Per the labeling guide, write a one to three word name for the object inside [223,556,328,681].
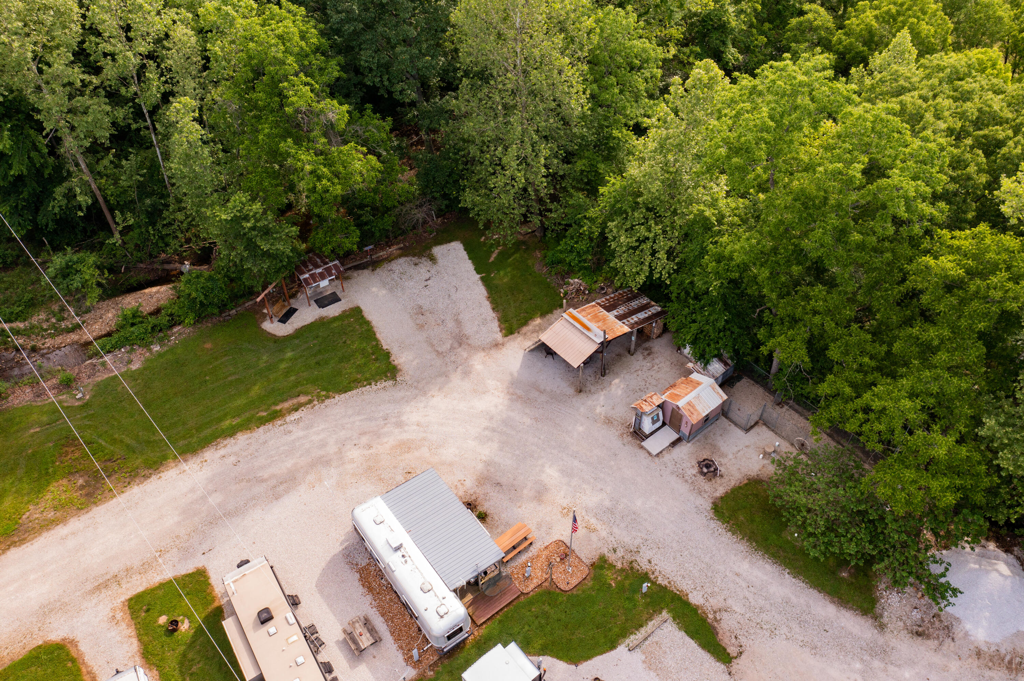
trailer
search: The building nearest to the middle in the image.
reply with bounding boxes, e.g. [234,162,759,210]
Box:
[539,283,668,393]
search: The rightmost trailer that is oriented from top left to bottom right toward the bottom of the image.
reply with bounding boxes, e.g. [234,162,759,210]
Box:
[350,493,472,650]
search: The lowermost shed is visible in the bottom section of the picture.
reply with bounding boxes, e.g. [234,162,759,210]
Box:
[660,377,728,443]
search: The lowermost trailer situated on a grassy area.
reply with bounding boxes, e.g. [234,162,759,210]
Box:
[462,641,542,681]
